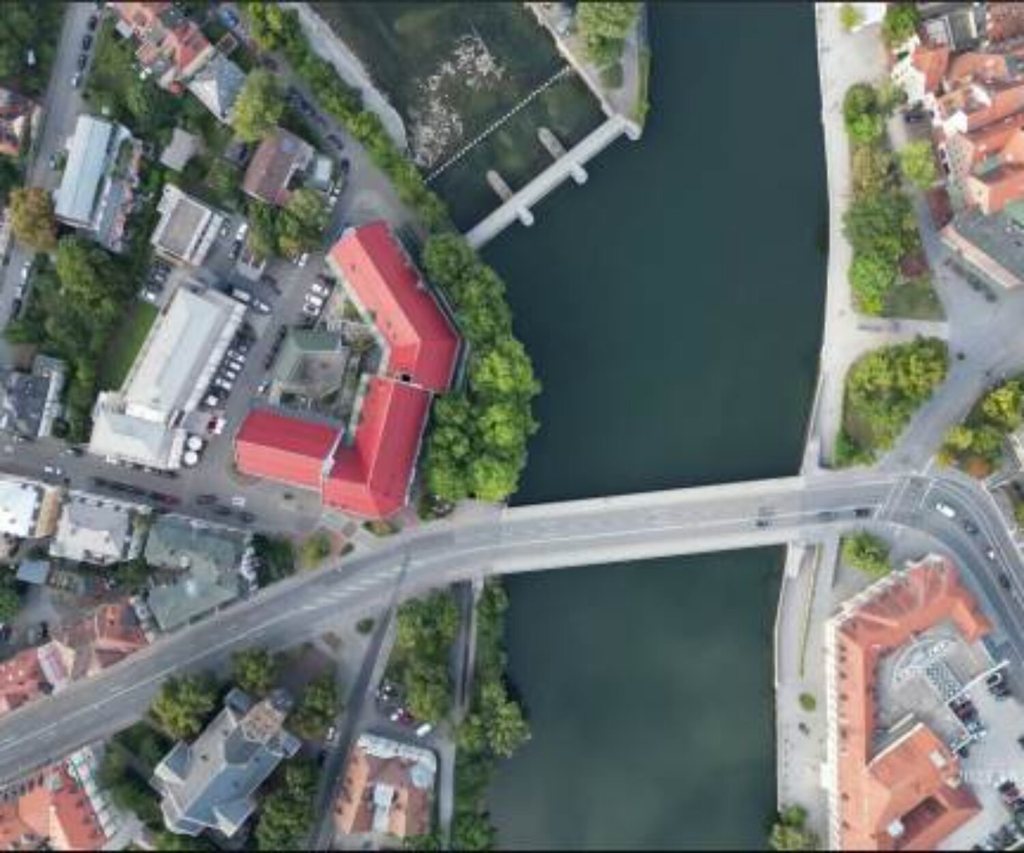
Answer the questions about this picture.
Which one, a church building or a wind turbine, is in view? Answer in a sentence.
Looking from above, you can make out a church building.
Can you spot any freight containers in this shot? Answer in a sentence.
No, the scene contains no freight container.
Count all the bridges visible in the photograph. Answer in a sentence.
I count 1 bridge.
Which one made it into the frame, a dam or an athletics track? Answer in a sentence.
I can see a dam in this picture.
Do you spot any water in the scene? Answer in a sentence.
Yes, water shows up in the scene.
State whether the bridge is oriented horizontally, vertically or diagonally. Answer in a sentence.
In this picture, the bridge lies horizontally.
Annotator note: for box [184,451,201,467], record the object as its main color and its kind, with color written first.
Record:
white umbrella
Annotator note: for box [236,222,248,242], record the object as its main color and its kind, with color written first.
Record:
white vehicle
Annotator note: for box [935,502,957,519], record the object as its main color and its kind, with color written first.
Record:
white vehicle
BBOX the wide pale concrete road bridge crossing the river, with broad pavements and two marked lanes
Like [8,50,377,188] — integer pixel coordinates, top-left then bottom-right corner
[501,473,807,575]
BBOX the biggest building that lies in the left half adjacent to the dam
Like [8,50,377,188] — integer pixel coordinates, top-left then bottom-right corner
[237,221,465,518]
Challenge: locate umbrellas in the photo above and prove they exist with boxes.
[188,435,204,451]
[184,451,201,467]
